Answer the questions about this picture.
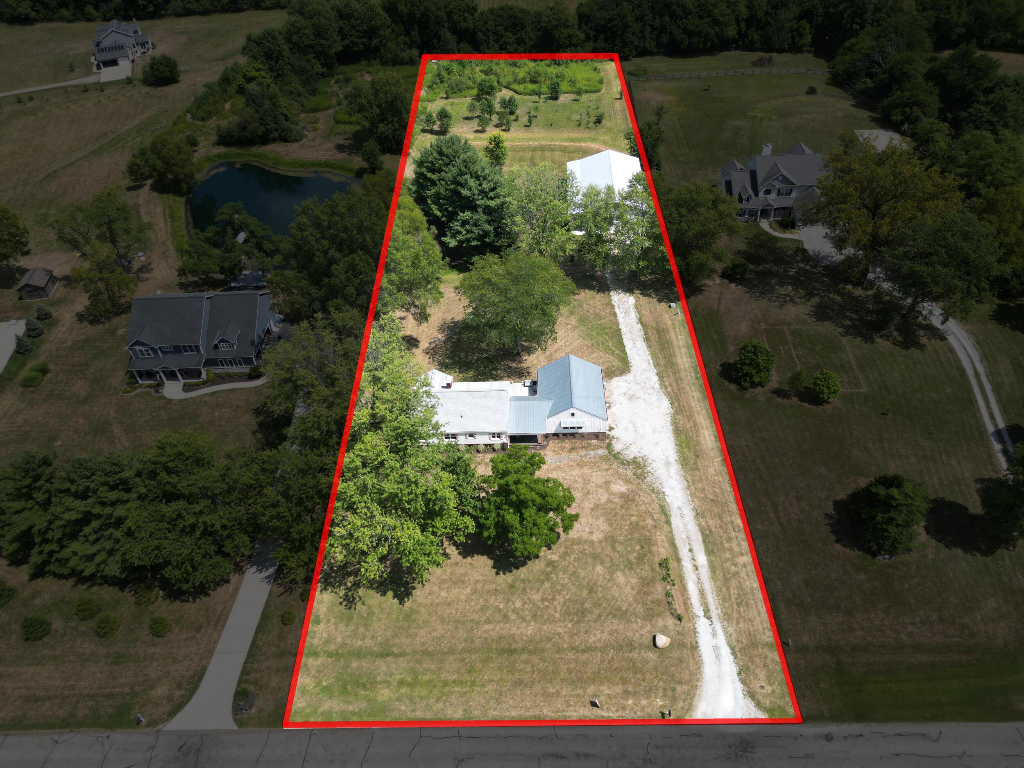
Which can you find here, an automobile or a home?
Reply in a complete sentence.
The one in the frame is a home.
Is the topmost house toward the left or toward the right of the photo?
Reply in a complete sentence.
The topmost house appears in the left half of the scene.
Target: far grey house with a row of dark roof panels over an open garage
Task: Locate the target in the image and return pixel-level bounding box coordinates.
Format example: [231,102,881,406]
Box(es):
[86,9,158,71]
